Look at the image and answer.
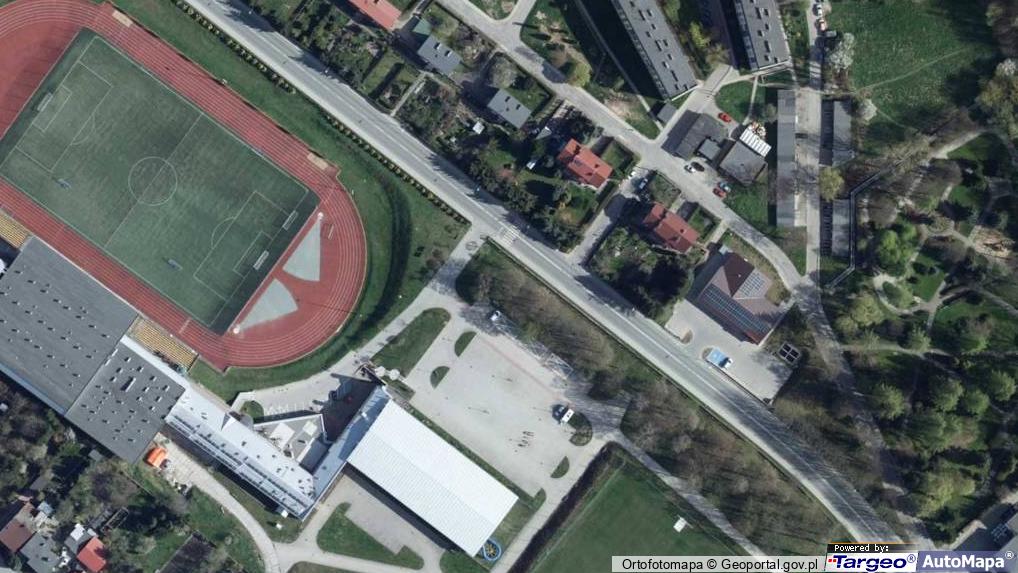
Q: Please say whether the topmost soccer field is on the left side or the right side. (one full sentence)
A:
The topmost soccer field sits on the left side.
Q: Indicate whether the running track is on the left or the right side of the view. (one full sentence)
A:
The running track appears in the left half of the scene.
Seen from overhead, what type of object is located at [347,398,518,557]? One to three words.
building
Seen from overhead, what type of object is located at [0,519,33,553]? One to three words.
house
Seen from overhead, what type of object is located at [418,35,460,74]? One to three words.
house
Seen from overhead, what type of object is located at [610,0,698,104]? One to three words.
building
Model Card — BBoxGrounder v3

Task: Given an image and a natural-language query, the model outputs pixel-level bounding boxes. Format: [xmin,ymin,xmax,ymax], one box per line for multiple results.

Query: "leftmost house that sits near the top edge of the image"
[347,0,404,31]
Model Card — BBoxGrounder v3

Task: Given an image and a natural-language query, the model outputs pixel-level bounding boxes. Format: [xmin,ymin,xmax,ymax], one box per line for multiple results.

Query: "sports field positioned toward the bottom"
[532,459,759,573]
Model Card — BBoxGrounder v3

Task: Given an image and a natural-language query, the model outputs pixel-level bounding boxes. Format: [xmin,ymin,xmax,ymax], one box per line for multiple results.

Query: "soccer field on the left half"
[0,25,322,338]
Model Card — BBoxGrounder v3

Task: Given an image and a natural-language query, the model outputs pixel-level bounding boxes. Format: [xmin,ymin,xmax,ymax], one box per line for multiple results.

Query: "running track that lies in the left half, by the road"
[0,0,367,373]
